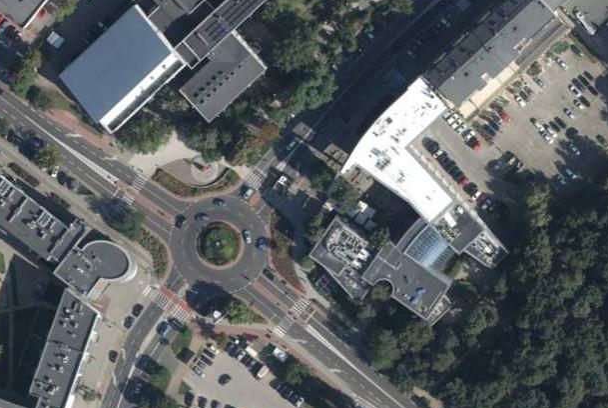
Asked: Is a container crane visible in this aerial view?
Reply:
No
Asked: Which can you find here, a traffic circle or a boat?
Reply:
traffic circle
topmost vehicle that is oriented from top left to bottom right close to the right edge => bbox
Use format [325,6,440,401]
[575,9,599,37]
